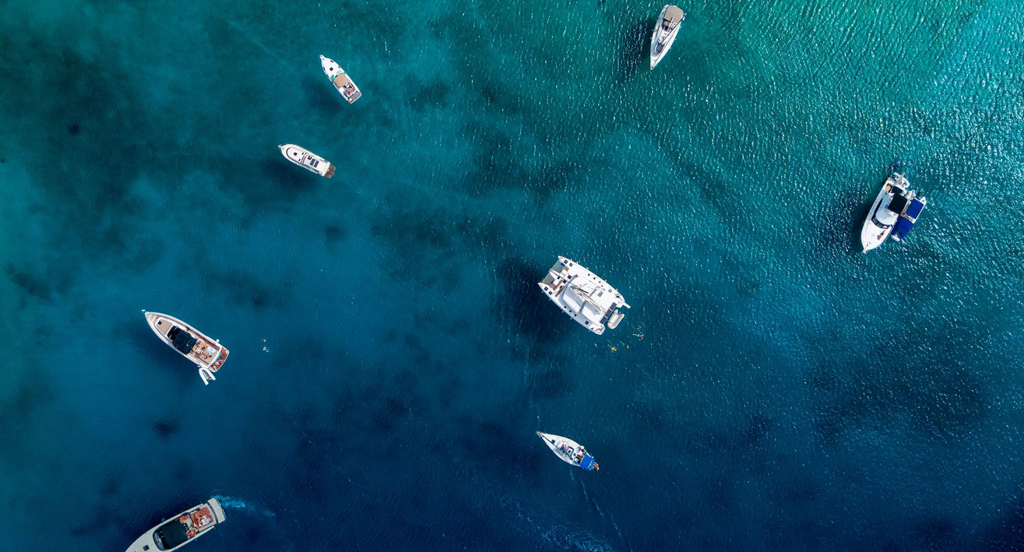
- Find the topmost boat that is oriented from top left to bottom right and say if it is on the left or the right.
left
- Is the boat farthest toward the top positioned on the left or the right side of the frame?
right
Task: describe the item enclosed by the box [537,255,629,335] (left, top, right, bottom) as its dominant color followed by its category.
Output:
white boat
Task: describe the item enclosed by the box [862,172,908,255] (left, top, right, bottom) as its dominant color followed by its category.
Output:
white boat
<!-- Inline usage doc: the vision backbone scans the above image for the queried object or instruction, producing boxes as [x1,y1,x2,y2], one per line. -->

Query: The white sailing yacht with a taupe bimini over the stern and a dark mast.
[651,3,686,70]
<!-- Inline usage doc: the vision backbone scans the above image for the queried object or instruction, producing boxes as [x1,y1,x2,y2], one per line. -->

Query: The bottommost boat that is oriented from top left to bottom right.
[536,430,598,469]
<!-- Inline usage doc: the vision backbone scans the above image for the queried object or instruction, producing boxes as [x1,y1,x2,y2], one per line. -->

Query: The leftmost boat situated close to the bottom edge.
[125,497,227,552]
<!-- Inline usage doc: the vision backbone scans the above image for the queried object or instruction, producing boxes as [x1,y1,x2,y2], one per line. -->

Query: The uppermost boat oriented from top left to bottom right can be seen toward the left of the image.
[319,54,362,105]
